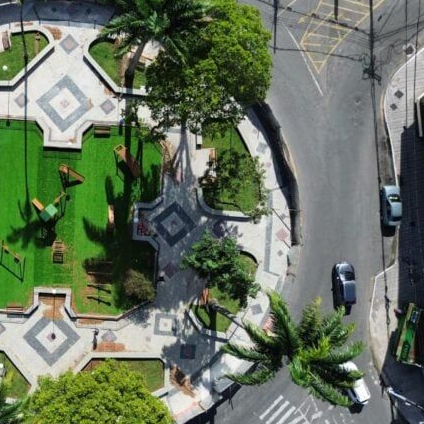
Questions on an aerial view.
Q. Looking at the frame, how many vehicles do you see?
three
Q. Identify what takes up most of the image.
paved ground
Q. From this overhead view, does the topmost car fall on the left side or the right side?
right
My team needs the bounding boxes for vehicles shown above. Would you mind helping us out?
[334,265,360,309]
[377,185,403,227]
[337,359,370,405]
